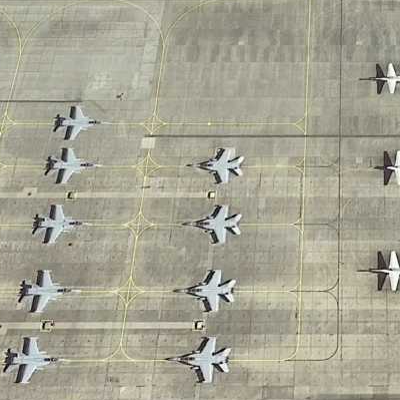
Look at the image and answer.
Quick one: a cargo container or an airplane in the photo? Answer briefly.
airplane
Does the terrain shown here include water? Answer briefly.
No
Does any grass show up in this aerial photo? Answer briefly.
No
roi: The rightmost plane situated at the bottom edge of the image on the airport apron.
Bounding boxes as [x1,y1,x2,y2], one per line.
[166,338,231,383]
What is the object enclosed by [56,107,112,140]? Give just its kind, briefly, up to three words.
airplane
